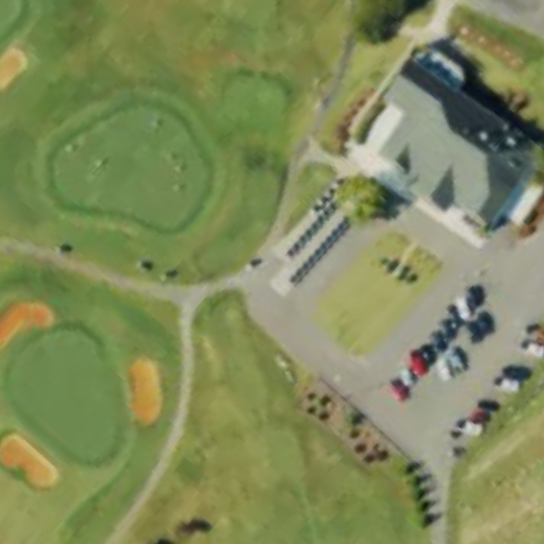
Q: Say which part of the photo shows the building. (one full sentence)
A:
Look in the top right portion of the view to spot the building.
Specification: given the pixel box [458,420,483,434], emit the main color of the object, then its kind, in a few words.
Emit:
white car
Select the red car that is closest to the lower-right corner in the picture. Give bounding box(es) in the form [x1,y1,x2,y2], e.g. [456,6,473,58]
[469,410,493,423]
